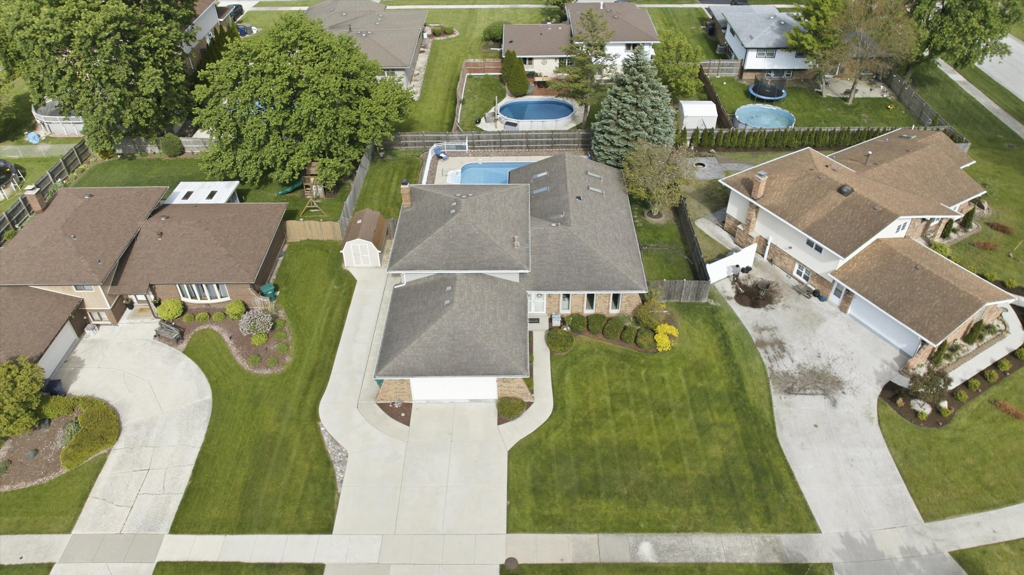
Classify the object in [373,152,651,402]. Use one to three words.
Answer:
house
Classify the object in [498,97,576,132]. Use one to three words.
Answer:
swimming pool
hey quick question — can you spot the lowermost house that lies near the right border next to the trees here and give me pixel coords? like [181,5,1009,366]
[718,125,1018,365]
